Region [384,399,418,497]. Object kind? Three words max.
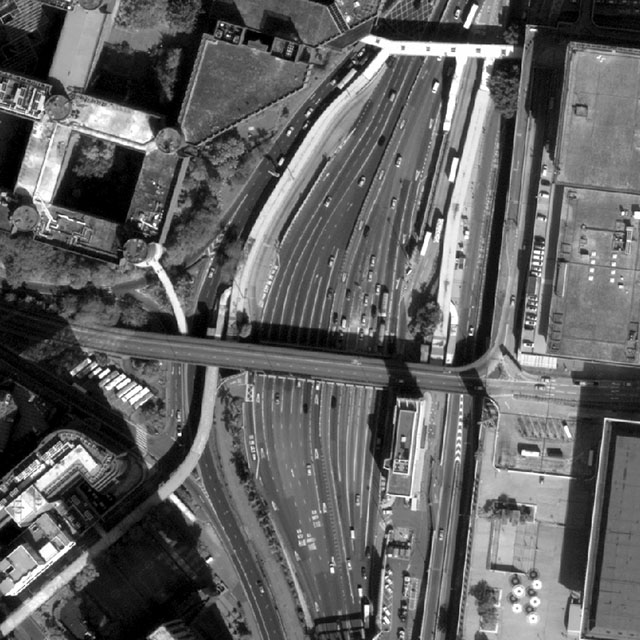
building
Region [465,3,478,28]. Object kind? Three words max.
vehicle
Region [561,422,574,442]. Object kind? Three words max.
vehicle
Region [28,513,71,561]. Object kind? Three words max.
building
